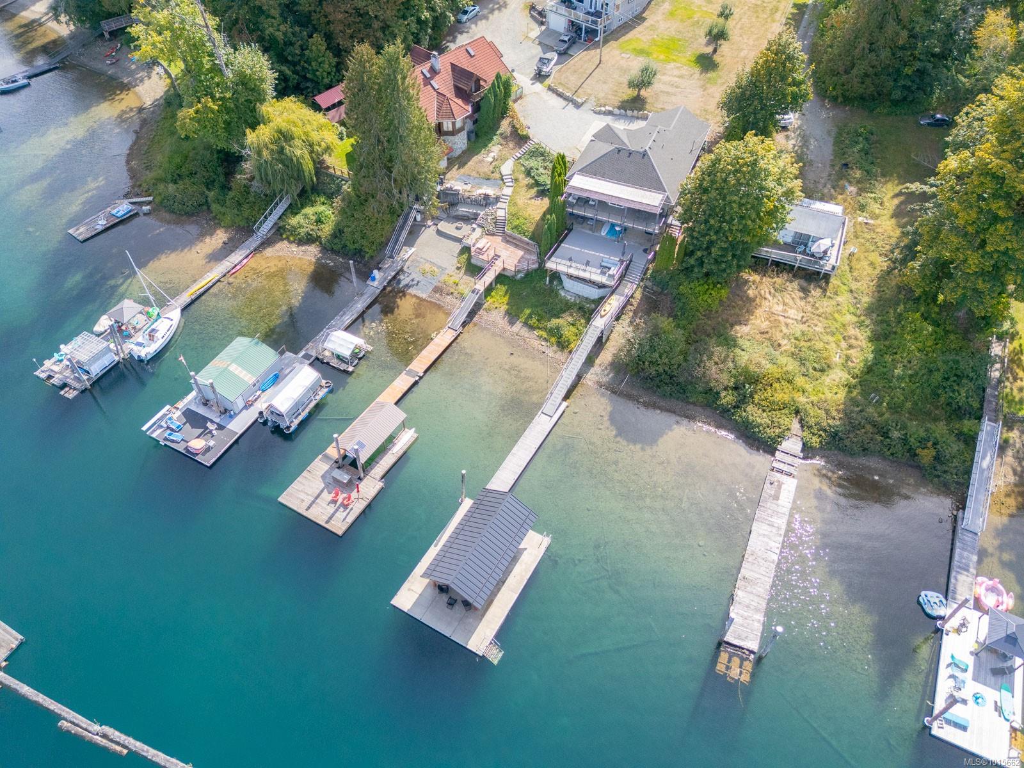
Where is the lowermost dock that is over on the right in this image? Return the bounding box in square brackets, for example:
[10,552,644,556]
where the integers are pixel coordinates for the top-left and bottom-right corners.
[920,603,1024,767]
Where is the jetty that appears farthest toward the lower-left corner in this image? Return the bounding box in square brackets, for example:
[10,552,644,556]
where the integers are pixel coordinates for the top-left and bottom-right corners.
[0,621,25,666]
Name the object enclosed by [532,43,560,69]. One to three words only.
boat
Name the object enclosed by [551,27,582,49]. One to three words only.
truck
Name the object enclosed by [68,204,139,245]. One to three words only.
pier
